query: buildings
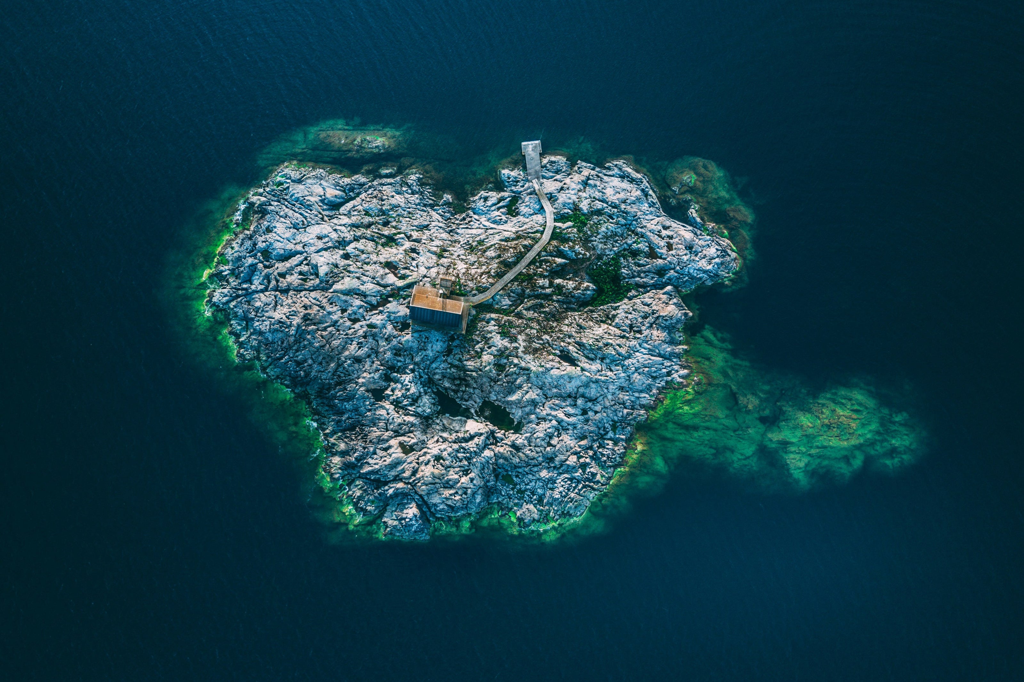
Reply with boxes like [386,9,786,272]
[409,285,464,328]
